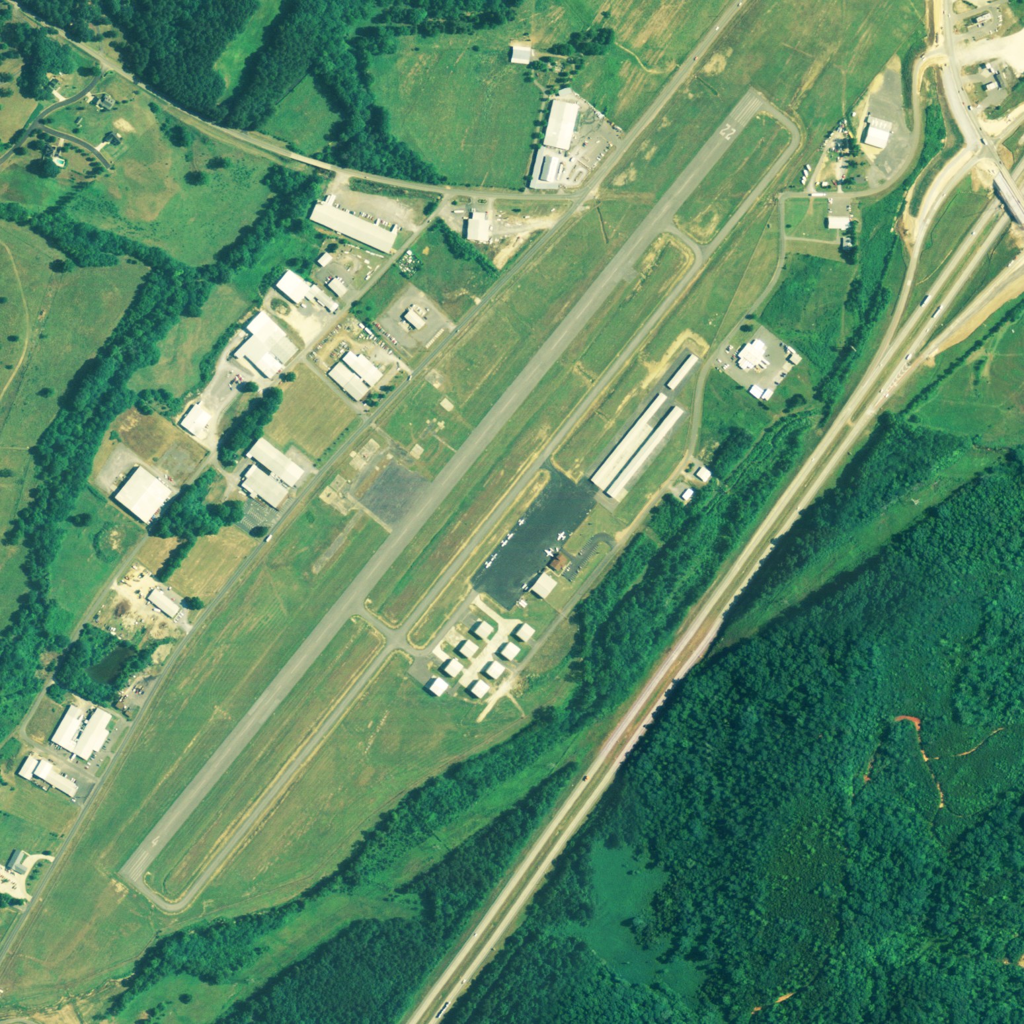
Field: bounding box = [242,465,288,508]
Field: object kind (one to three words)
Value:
building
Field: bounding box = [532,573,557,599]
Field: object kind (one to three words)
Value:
hangar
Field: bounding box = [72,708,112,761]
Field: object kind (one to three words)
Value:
building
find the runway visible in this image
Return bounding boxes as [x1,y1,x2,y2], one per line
[119,87,766,885]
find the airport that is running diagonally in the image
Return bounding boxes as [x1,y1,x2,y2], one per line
[119,87,799,909]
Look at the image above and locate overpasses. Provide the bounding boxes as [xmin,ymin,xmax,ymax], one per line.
[992,161,1024,228]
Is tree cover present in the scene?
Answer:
Yes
